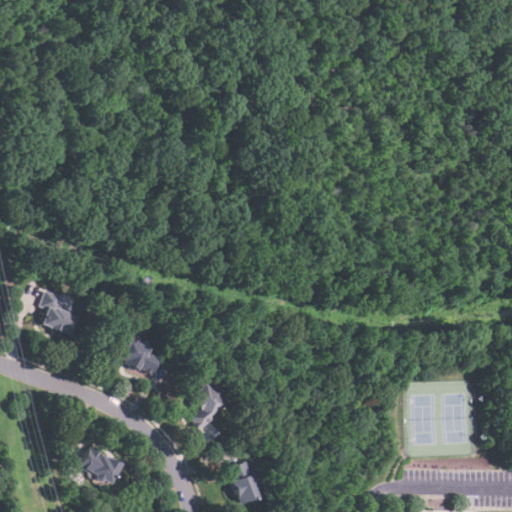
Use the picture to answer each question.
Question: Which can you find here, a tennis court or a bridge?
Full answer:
There is a tennis court in the scene.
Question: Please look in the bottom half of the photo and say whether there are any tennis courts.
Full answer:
Yes, a tennis court shows up in the bottom half of the photo.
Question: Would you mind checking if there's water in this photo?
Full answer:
No, no water is visible.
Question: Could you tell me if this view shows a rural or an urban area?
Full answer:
The area shown here is rural.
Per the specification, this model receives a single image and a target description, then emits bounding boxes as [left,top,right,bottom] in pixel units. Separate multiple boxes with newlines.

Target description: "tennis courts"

[438,380,478,454]
[402,382,441,456]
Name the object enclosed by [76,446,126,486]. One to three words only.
house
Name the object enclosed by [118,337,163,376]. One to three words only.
house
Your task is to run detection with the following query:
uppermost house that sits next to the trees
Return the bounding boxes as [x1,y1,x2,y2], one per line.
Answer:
[36,288,76,333]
